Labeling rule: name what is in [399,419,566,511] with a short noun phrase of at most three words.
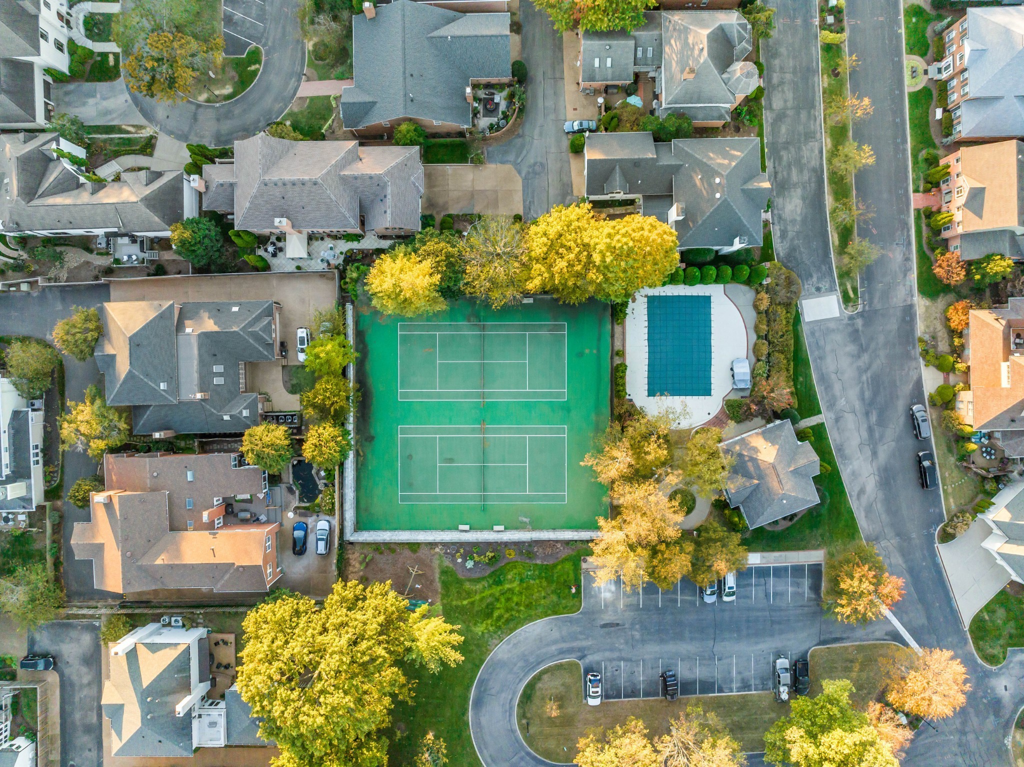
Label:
tennis court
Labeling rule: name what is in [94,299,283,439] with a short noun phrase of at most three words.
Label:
house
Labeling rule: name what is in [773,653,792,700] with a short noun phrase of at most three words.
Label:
vehicle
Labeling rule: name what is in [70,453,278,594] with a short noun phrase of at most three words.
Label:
house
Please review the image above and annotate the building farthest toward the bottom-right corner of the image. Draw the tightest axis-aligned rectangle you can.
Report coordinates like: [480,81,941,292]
[971,482,1024,587]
